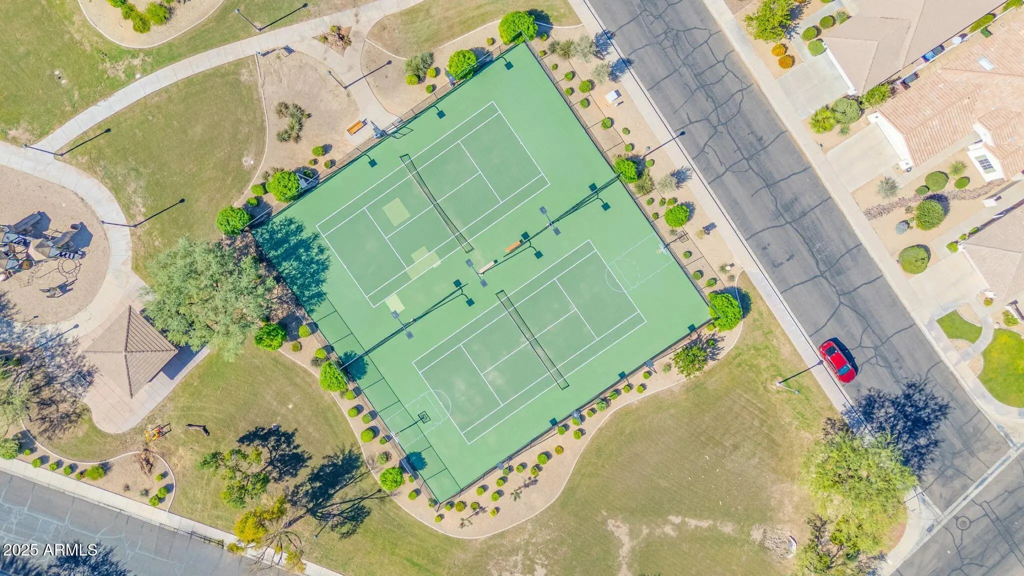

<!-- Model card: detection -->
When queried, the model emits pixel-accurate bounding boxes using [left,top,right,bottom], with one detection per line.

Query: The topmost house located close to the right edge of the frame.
[819,0,1004,97]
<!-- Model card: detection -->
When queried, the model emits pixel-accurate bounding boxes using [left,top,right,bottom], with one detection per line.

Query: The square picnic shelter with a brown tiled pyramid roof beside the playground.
[83,305,181,398]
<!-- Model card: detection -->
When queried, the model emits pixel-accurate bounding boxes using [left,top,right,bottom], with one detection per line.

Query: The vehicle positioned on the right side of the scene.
[820,339,854,382]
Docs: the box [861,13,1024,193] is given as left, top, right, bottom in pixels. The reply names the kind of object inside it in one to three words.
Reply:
house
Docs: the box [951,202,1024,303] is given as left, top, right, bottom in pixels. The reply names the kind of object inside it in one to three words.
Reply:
house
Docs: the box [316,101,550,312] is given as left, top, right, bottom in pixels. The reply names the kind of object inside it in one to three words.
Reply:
tennis court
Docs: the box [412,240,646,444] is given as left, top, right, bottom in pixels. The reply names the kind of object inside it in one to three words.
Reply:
tennis court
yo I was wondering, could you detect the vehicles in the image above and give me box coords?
[145,429,163,440]
[820,339,854,382]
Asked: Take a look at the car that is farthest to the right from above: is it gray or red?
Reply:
red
